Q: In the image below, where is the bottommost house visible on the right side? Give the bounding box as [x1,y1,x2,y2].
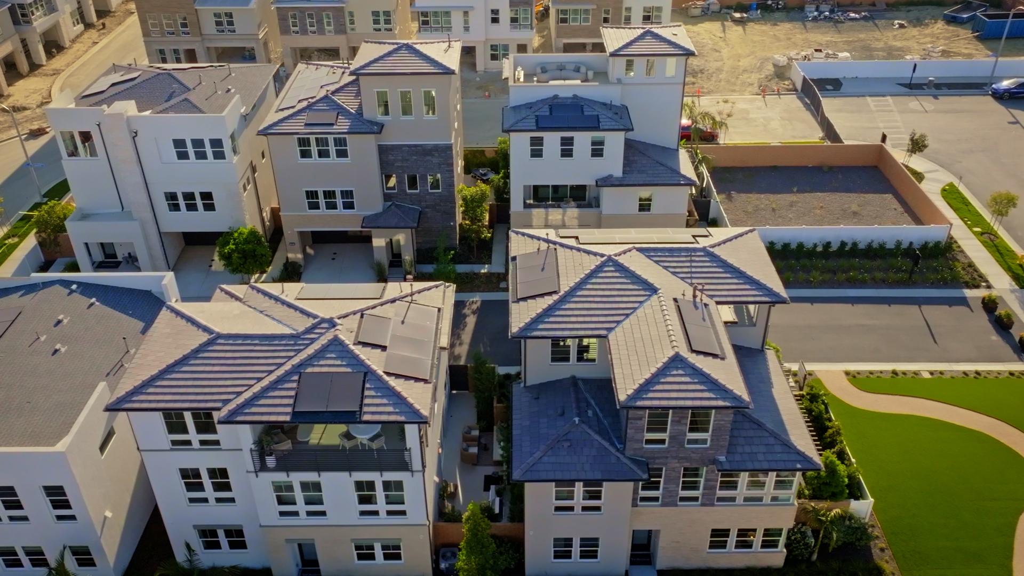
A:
[507,226,828,576]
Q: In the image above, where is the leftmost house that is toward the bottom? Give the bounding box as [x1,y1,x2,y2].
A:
[0,272,180,576]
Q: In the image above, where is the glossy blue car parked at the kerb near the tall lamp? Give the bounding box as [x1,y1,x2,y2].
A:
[992,76,1024,99]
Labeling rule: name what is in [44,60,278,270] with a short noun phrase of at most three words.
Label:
house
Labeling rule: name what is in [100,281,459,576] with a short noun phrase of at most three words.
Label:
house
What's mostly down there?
buildings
